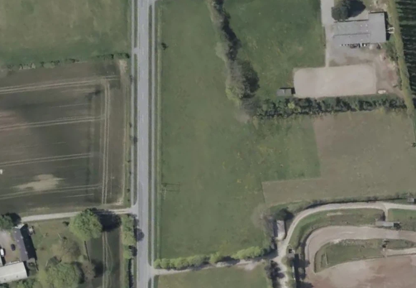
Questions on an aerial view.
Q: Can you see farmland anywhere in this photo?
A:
Yes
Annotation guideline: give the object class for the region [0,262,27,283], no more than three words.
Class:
barn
